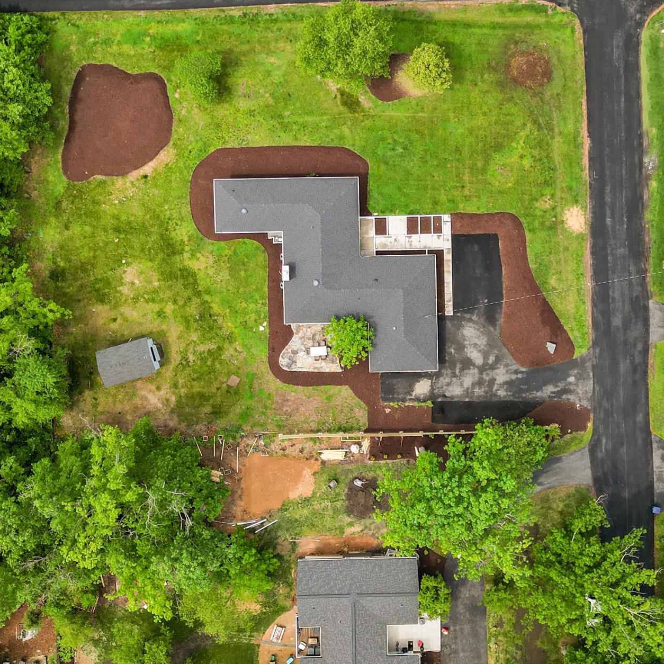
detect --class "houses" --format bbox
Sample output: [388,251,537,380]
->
[213,176,438,374]
[292,552,442,664]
